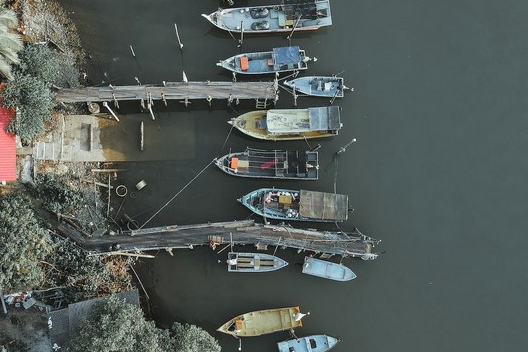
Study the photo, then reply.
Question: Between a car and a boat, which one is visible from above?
boat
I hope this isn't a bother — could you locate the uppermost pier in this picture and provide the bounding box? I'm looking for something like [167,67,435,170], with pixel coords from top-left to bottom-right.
[56,78,279,113]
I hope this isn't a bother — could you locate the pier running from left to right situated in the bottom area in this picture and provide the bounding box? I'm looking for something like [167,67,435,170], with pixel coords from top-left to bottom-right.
[59,217,386,259]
